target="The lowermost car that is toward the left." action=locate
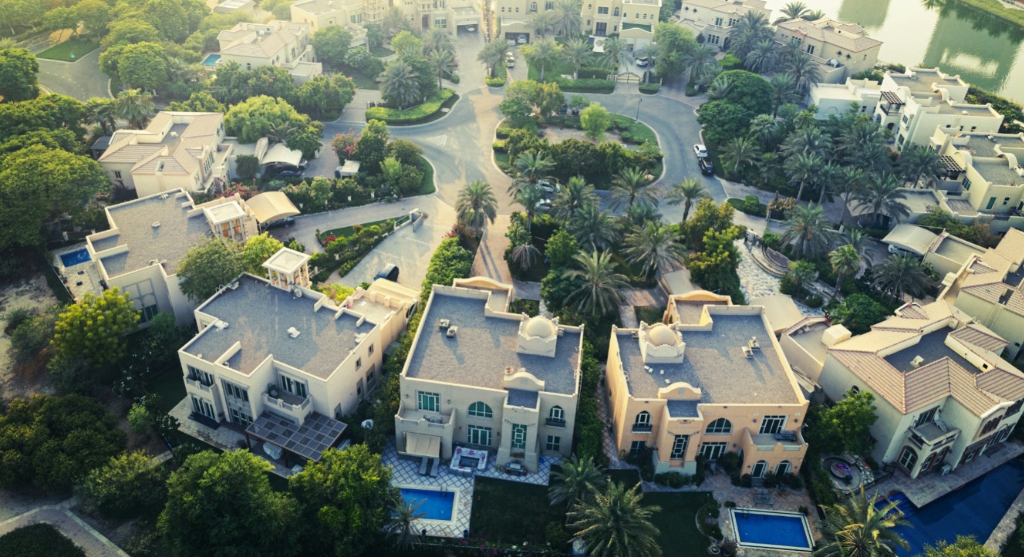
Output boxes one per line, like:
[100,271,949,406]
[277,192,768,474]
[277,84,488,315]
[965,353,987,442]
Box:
[369,262,405,283]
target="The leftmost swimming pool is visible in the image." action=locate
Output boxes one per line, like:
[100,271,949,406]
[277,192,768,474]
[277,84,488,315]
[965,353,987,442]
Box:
[59,245,94,268]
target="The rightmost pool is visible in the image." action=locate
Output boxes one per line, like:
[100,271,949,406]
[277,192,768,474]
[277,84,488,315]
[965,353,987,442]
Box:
[847,451,1024,557]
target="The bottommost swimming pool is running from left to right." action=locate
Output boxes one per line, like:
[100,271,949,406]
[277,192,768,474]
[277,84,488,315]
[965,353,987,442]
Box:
[725,506,820,556]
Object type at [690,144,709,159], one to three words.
car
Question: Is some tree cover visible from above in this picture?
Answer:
Yes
